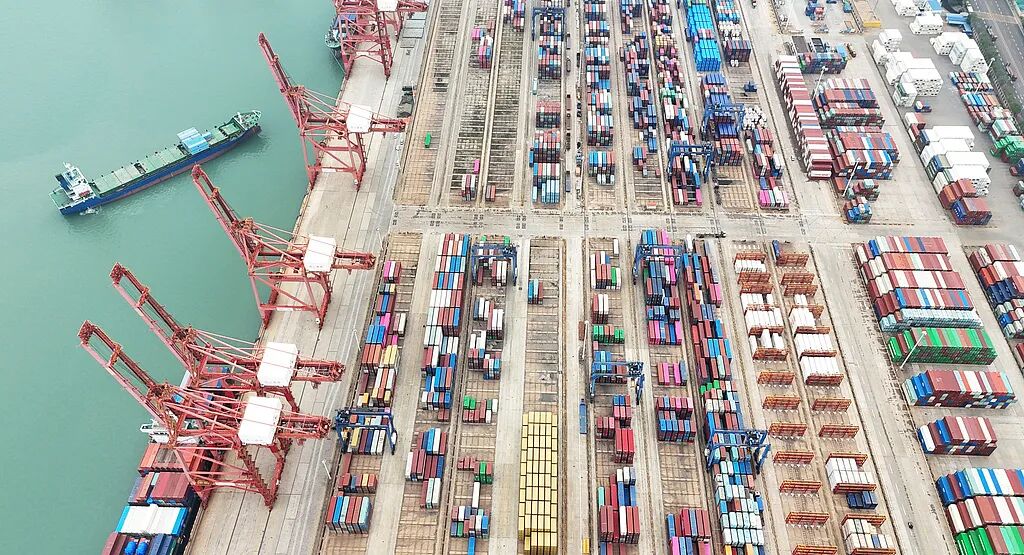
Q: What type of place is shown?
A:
port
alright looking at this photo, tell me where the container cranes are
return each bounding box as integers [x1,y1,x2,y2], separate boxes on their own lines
[332,407,396,453]
[698,92,743,129]
[702,426,770,472]
[192,163,378,331]
[330,0,432,80]
[355,4,405,42]
[589,358,644,402]
[110,260,345,455]
[666,139,712,178]
[260,31,409,192]
[632,228,684,269]
[470,242,516,283]
[533,6,565,40]
[75,322,331,513]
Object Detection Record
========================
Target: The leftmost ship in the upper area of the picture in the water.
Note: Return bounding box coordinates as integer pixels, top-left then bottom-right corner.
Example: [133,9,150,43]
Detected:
[52,110,265,217]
